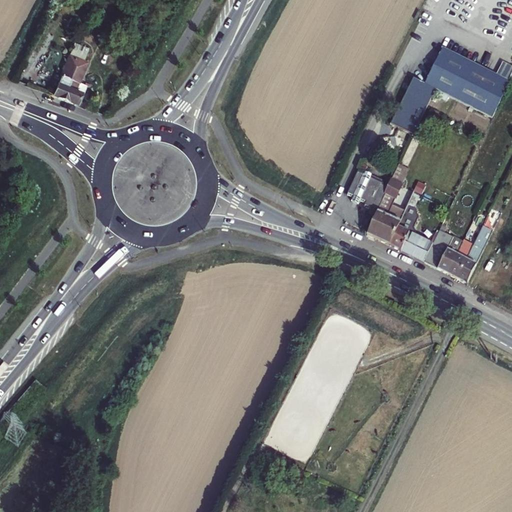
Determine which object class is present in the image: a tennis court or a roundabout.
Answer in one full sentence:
This aerial view contains a roundabout.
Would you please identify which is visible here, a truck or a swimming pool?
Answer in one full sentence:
Visible in the photo is a truck.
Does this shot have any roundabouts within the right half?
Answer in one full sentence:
No, the scene shows no roundabout within the right half.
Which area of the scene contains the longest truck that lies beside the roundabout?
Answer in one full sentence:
You can find the longest truck that lies beside the roundabout in the left area of the picture.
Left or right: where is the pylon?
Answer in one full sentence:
The pylon sits on the left side.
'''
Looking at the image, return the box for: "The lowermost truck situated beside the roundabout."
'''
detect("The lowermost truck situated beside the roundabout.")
[92,246,128,279]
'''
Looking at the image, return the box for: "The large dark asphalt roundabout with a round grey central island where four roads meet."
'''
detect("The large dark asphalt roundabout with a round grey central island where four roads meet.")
[90,119,220,249]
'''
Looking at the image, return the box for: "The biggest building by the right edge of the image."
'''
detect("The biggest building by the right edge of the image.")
[424,46,510,118]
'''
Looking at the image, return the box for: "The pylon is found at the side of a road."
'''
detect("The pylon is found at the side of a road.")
[0,414,28,446]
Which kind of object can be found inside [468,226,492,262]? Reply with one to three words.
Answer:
shed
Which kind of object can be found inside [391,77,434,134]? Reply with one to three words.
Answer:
building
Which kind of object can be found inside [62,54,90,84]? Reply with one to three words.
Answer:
house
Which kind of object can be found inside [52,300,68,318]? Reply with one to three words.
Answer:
vehicle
